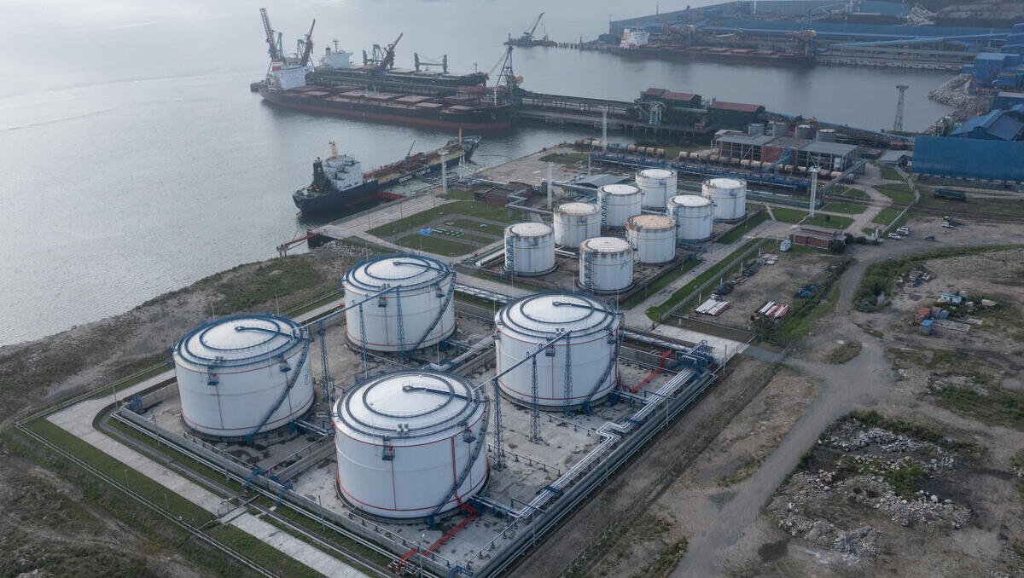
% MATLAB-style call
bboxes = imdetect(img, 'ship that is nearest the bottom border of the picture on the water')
[285,118,474,209]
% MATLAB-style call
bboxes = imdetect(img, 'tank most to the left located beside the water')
[166,289,320,442]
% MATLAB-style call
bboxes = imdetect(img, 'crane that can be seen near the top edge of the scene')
[502,8,557,47]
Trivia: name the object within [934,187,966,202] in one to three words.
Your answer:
rail car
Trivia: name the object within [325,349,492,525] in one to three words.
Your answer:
storage tank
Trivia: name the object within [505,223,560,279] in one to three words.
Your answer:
storage tank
